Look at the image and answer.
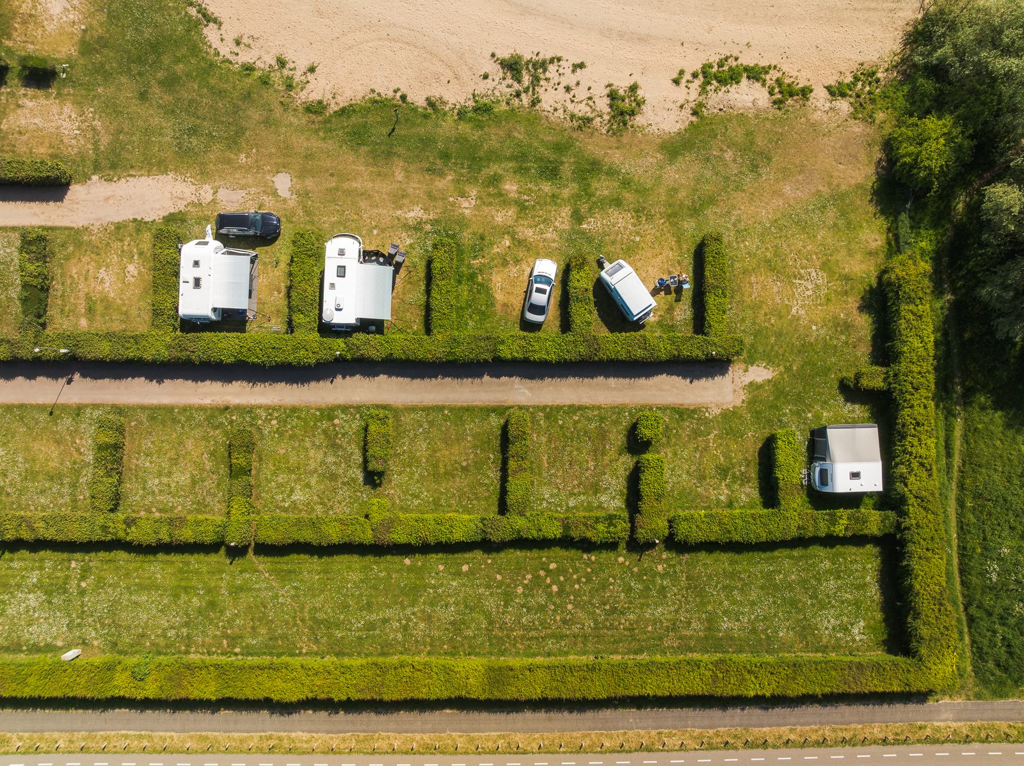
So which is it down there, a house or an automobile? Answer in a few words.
automobile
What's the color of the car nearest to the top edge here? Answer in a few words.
black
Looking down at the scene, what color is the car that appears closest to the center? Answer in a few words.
white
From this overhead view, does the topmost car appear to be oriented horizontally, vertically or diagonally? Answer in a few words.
horizontally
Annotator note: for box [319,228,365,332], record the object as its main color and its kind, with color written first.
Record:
white camper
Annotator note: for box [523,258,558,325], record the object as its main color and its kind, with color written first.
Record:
white car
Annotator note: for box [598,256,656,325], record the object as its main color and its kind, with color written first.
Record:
white camper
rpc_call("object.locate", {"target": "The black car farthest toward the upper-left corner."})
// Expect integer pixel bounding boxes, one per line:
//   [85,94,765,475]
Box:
[215,208,284,241]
